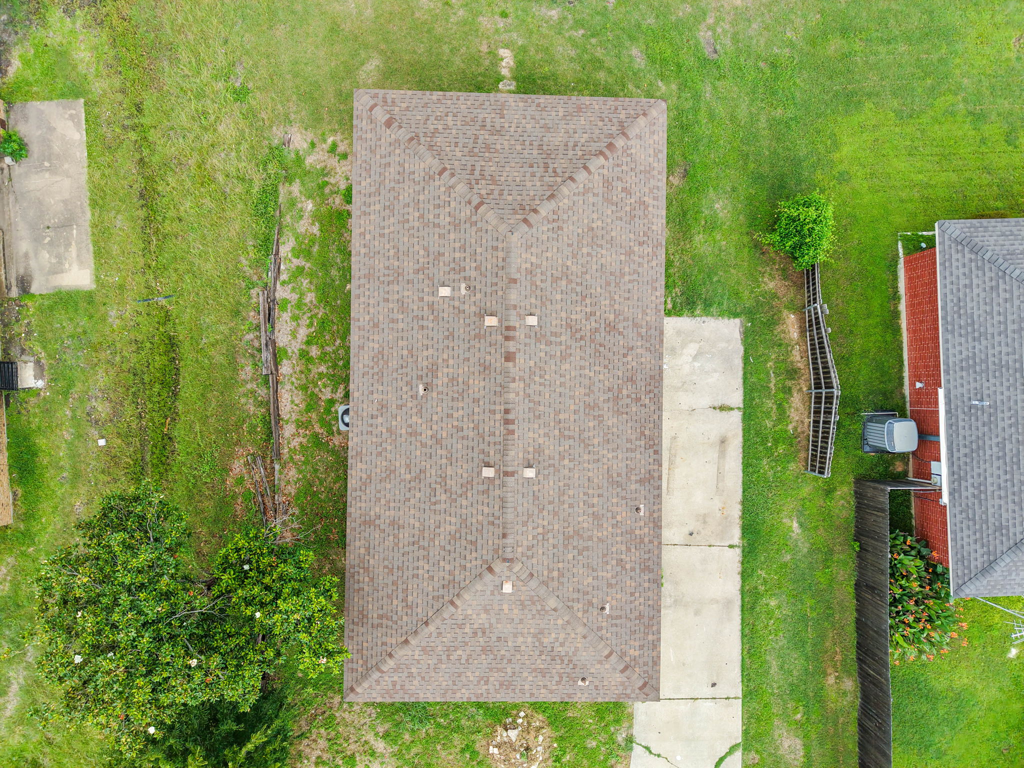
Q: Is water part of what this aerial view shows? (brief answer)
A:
No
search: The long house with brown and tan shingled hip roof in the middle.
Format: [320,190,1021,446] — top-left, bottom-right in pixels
[342,88,668,703]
